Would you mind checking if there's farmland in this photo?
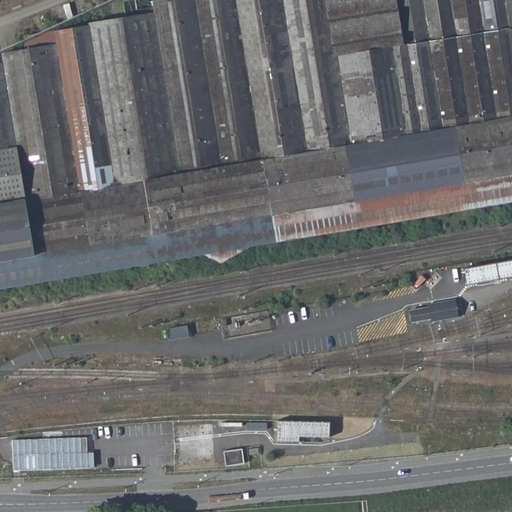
No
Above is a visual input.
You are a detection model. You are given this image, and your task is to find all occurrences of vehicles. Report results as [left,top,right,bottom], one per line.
[398,470,408,475]
[328,336,334,348]
[289,311,295,323]
[118,426,124,436]
[453,268,460,282]
[470,300,476,312]
[132,454,137,466]
[302,307,307,319]
[104,426,110,438]
[93,428,98,439]
[208,492,249,502]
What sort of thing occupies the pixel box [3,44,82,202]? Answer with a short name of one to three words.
building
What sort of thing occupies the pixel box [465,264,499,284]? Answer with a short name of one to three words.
building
